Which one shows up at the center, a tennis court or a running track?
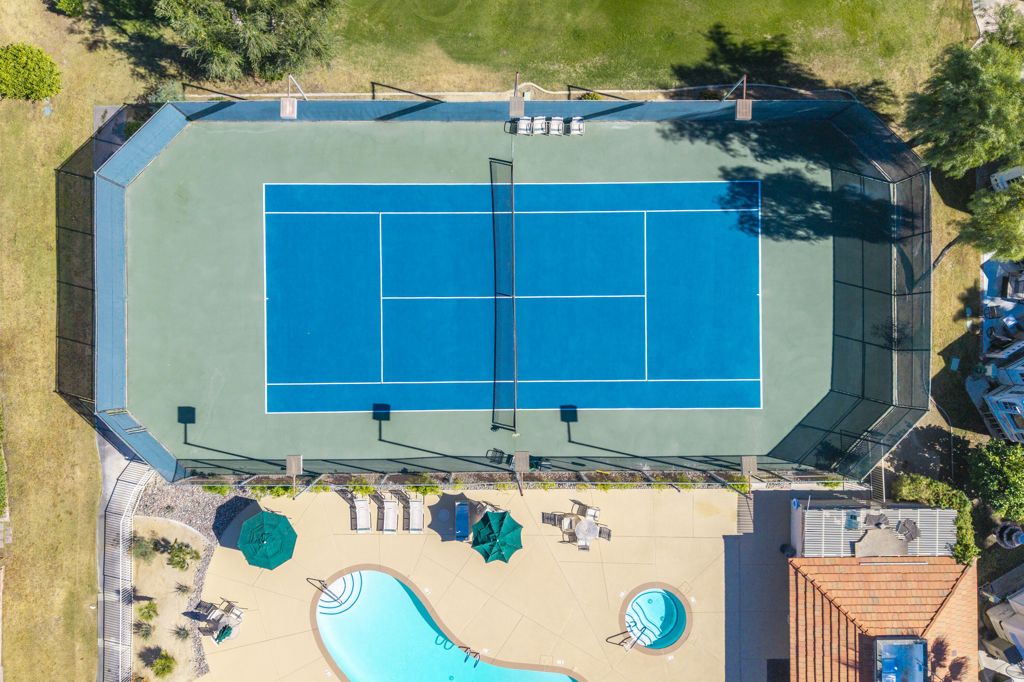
tennis court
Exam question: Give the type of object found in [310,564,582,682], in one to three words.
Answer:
swimming pool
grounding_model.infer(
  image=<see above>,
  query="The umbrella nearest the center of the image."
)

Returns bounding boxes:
[472,511,523,563]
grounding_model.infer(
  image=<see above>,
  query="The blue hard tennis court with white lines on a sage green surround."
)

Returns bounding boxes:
[123,119,900,488]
